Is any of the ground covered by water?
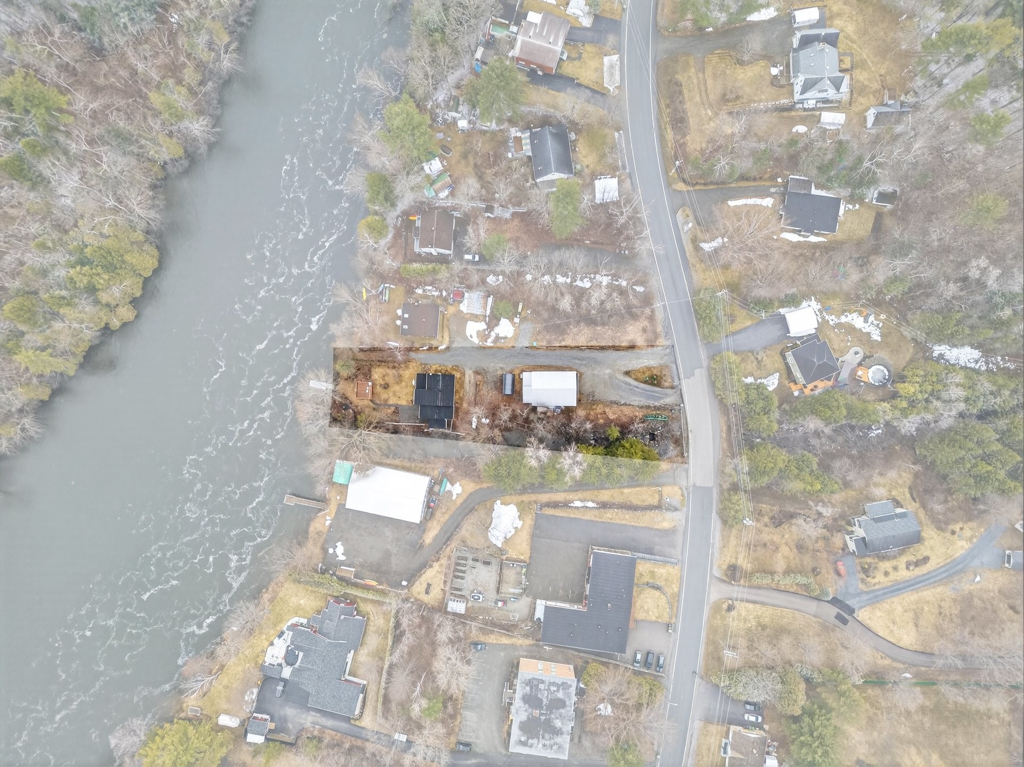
Yes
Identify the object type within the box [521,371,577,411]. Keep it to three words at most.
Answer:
barn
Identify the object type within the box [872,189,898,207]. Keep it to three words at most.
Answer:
shed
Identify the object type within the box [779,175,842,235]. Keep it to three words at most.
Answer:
house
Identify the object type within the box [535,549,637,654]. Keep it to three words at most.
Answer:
building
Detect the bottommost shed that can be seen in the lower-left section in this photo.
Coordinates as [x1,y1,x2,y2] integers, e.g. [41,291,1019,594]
[246,712,273,744]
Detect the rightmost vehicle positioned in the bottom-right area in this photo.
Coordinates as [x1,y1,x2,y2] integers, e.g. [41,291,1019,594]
[836,562,848,578]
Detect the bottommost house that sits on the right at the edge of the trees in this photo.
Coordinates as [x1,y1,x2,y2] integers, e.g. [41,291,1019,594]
[720,727,767,767]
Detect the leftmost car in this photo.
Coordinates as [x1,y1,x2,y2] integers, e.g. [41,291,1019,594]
[273,680,285,699]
